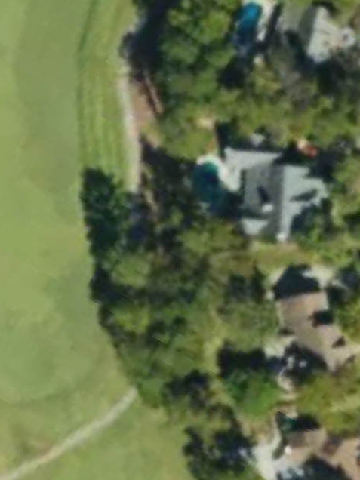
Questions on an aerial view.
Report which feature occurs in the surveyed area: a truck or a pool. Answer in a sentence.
Of the two, only a pool appears.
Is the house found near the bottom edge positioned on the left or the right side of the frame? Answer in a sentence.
The house found near the bottom edge appears in the right half of the scene.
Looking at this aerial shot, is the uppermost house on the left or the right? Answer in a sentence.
The uppermost house appears in the right half of the scene.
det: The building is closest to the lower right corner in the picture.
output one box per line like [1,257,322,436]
[280,423,360,480]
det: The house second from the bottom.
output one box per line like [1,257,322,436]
[275,288,360,376]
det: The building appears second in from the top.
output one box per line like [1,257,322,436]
[223,145,334,246]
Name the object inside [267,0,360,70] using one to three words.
house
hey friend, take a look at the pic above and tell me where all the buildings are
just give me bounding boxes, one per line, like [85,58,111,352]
[275,288,360,376]
[223,145,334,246]
[267,0,360,70]
[280,423,360,480]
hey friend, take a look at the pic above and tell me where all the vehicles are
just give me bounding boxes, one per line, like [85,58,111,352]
[303,144,321,157]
